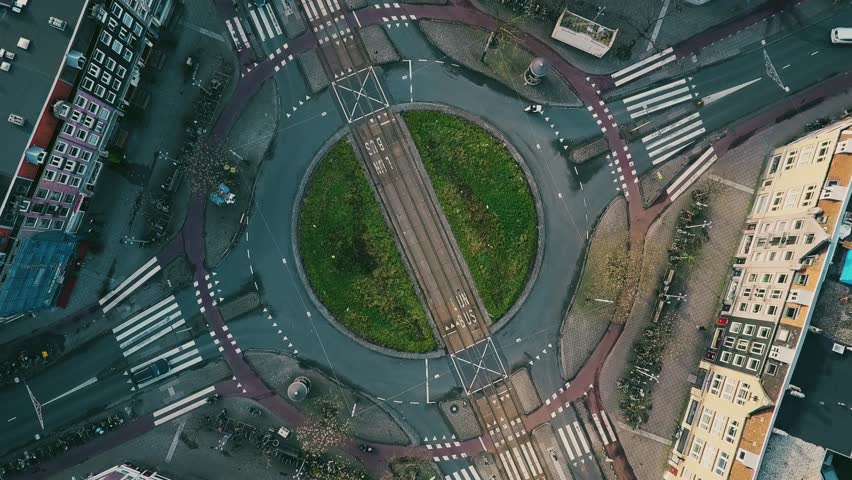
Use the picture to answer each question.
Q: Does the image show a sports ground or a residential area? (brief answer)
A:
residential area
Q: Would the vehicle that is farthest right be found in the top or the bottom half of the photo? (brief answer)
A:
top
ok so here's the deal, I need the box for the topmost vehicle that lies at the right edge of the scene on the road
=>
[829,23,852,45]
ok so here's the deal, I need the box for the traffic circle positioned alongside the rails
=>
[251,63,587,399]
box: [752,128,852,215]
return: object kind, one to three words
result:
house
